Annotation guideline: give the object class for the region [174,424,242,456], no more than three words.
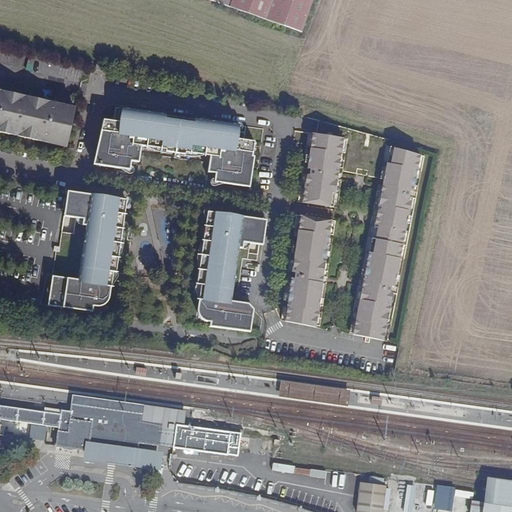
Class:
building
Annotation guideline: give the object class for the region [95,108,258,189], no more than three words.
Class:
building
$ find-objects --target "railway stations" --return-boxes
[30,395,187,470]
